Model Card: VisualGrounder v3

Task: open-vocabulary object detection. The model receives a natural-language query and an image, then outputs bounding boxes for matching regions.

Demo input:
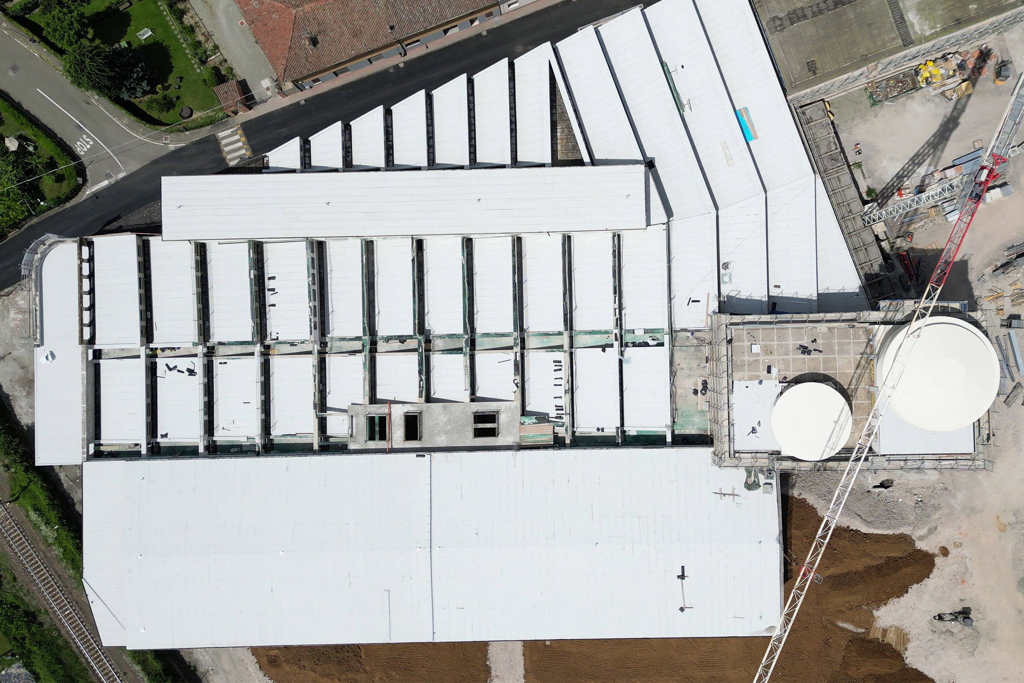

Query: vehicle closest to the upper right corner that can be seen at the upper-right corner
[995,52,1020,84]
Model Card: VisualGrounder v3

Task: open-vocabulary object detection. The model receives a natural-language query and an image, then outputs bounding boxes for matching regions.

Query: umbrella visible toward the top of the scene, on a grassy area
[4,137,23,151]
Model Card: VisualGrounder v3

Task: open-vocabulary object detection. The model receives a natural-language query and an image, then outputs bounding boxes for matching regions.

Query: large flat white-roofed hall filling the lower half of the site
[81,445,780,652]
